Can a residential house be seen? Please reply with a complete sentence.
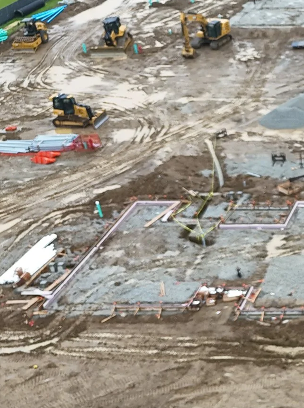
No, the scene contains no residential house.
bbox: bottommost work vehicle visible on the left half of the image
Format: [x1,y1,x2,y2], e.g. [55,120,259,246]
[45,84,110,126]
